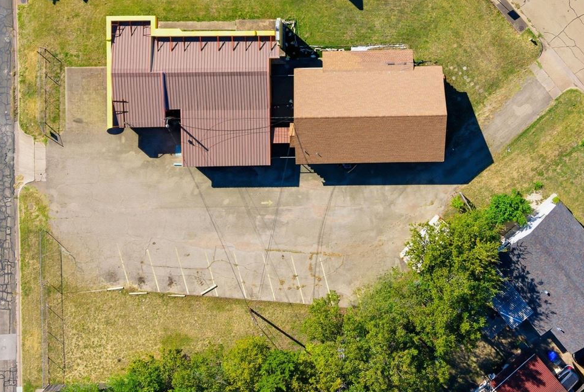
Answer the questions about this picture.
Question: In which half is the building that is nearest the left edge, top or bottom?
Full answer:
You can find the building that is nearest the left edge in the top half.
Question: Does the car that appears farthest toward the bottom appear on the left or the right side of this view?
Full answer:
You can find the car that appears farthest toward the bottom on the right side of the picture.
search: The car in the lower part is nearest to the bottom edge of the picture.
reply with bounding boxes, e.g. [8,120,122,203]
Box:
[556,356,584,392]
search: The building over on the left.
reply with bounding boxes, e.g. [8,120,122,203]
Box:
[105,16,279,167]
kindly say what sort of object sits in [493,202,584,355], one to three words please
house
